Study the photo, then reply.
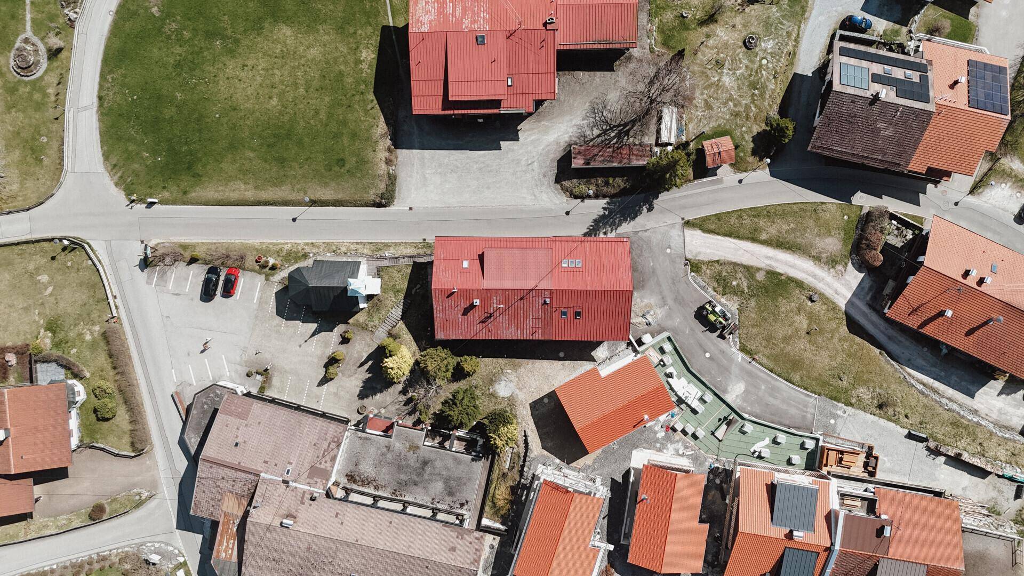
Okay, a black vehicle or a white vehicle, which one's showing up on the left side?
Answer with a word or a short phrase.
black vehicle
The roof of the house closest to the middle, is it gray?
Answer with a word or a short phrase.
No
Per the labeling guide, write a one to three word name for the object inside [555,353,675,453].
house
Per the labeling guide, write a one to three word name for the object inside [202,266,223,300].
car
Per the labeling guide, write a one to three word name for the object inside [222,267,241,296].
car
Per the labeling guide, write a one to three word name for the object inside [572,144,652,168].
shed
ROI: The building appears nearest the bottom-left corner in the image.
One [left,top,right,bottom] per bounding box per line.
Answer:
[0,473,44,516]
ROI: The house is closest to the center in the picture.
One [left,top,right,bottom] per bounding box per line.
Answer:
[431,237,633,341]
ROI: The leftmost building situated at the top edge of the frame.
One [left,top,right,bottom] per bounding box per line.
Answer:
[409,0,556,118]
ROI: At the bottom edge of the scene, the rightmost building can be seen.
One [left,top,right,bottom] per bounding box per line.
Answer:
[833,486,965,576]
